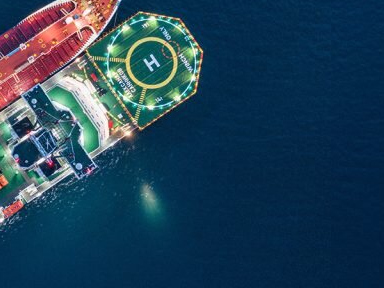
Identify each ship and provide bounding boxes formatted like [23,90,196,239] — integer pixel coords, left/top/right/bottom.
[0,0,122,109]
[0,55,137,223]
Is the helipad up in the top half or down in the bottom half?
top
